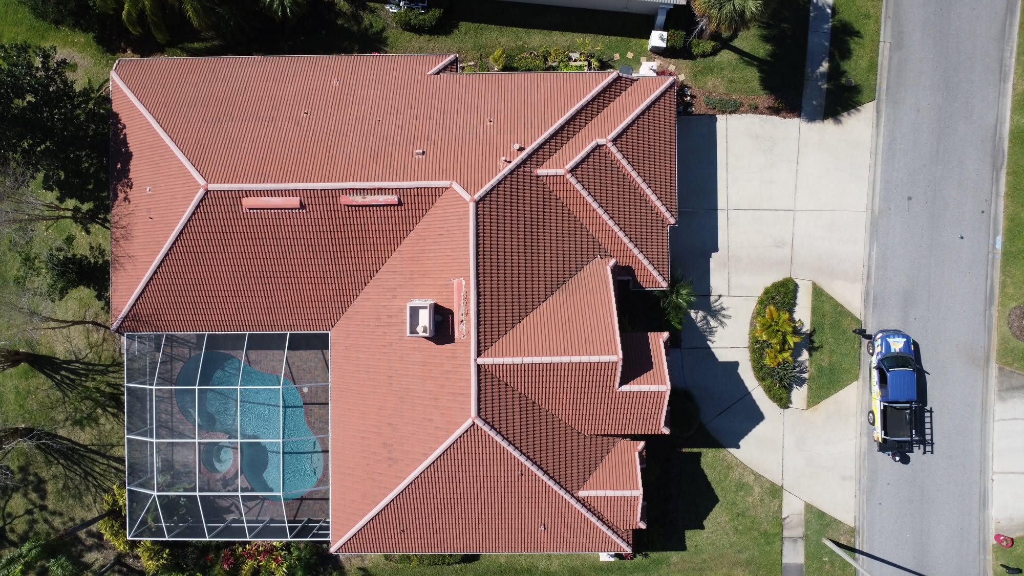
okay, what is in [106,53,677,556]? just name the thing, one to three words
house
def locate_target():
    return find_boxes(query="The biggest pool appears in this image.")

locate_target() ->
[170,346,327,506]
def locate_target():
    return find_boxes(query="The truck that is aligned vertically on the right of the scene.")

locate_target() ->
[865,327,922,451]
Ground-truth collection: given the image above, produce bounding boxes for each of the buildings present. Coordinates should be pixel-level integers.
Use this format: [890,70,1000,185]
[489,0,662,13]
[106,53,677,556]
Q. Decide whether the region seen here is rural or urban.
urban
